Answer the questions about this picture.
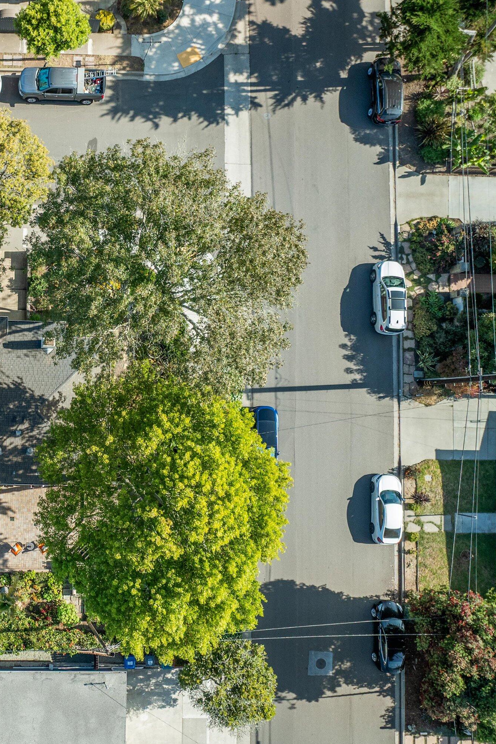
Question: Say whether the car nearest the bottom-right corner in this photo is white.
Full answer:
No, from above the car nearest the bottom-right corner looks black.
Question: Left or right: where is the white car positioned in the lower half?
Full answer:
It is on the right.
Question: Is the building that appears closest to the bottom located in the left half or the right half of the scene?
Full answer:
The building that appears closest to the bottom sits on the left side.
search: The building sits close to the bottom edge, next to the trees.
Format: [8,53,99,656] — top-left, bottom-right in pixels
[0,655,144,744]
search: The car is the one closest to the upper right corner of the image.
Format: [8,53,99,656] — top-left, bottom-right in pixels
[368,55,408,124]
